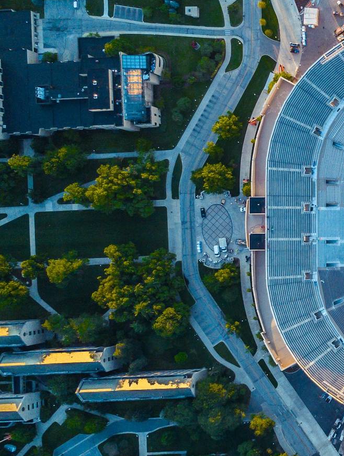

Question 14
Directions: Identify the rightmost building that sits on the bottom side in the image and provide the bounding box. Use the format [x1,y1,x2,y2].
[75,372,205,404]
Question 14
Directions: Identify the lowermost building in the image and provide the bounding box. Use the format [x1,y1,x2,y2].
[0,392,40,424]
